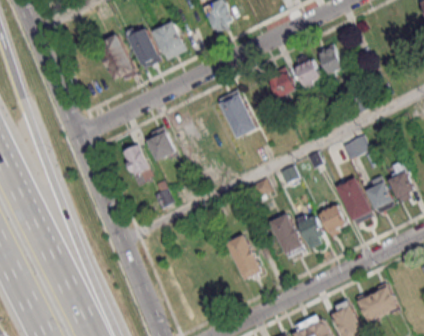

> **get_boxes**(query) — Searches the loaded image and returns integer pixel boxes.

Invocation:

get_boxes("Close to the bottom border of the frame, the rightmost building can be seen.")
[356,282,400,320]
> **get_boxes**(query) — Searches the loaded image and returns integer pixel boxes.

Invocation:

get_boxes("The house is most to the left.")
[104,36,136,84]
